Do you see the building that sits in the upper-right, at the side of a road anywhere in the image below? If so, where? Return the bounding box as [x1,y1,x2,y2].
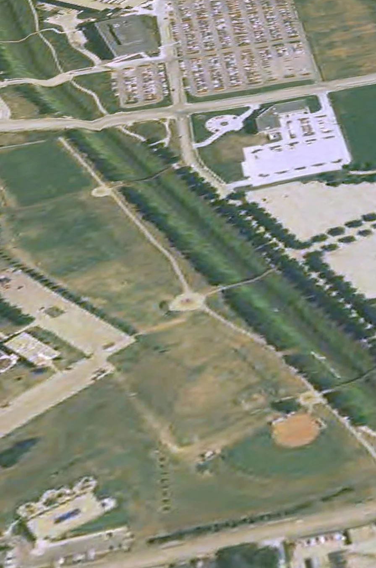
[259,98,310,134]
